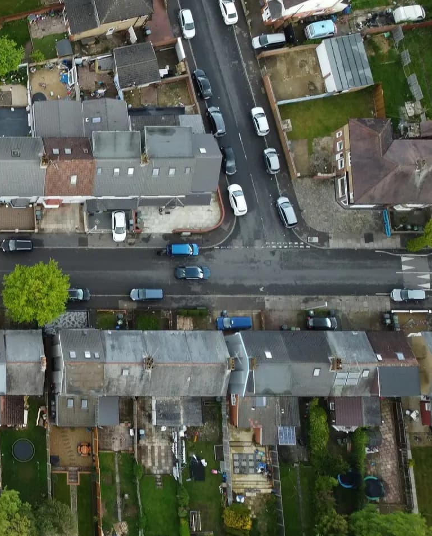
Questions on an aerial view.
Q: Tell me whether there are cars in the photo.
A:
Yes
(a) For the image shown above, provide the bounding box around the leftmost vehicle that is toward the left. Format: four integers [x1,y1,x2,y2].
[1,237,33,253]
